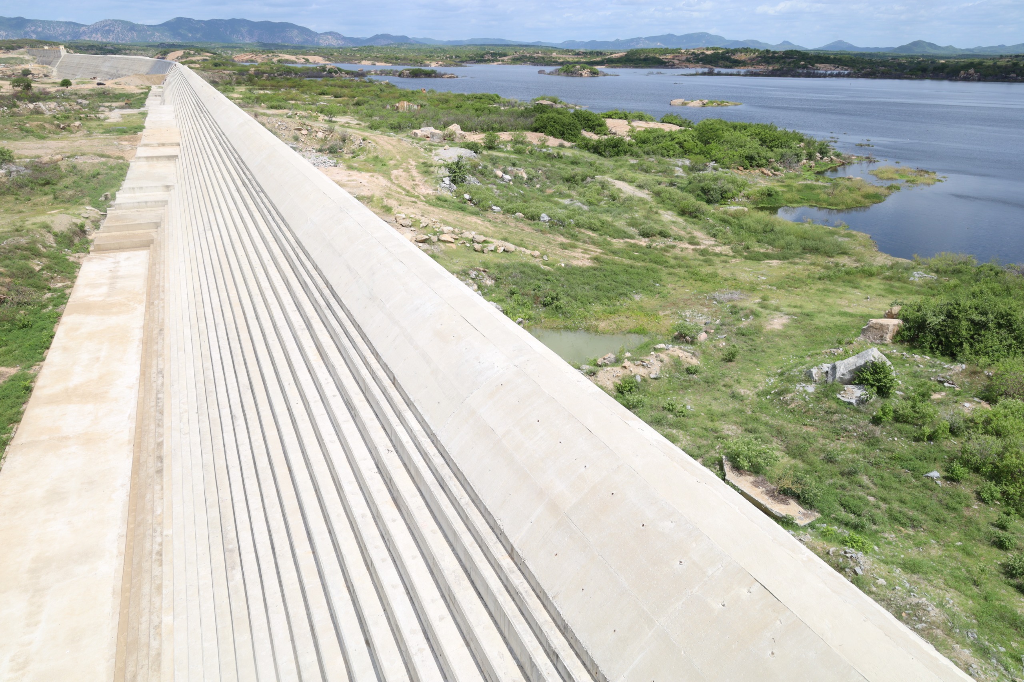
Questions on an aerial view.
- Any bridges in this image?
No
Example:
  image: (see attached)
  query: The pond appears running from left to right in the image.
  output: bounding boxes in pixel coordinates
[524,327,639,367]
